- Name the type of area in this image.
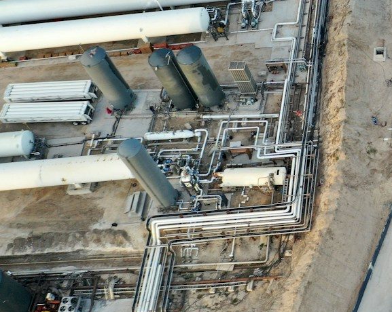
industrial area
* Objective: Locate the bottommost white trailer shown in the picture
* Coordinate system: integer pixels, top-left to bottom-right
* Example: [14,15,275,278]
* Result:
[0,94,96,123]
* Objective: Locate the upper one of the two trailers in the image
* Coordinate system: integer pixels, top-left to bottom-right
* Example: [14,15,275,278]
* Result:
[2,71,95,97]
